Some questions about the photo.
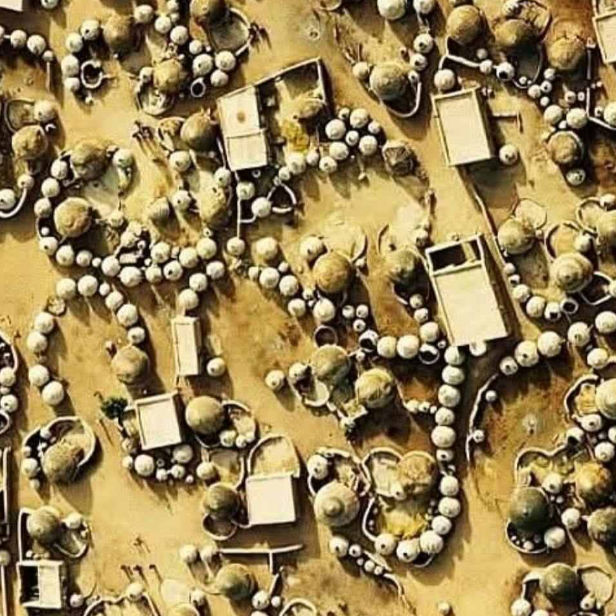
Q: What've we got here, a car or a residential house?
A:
residential house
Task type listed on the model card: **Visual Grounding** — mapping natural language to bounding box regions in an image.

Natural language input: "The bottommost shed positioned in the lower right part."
[539,560,580,601]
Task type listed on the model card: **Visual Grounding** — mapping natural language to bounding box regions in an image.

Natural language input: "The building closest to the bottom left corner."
[19,557,68,608]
